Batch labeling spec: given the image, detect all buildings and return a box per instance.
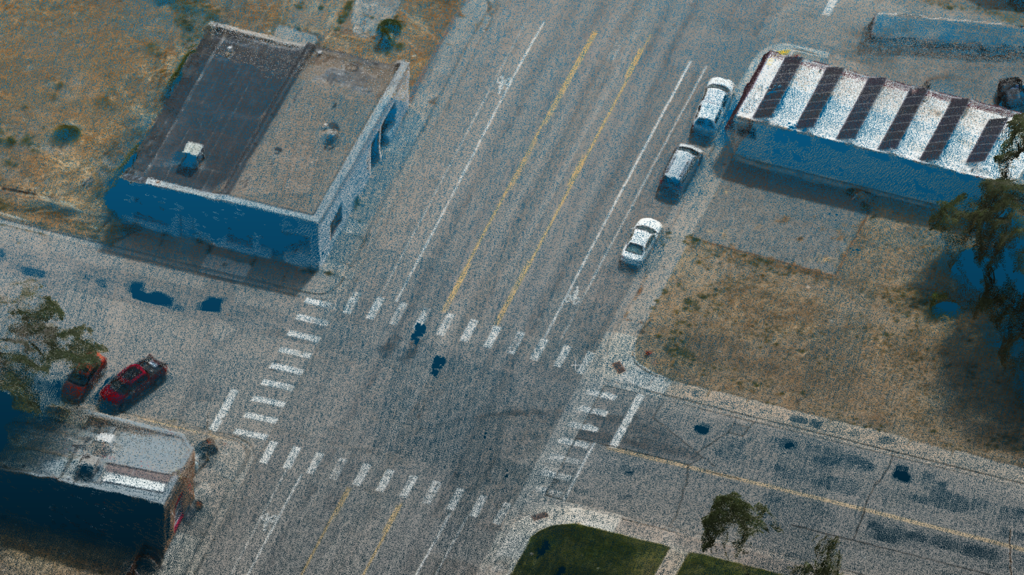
[121,21,408,274]
[729,48,1024,224]
[0,392,198,566]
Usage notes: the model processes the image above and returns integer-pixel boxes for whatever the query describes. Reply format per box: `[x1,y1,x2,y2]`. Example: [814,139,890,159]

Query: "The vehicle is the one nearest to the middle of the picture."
[619,218,663,270]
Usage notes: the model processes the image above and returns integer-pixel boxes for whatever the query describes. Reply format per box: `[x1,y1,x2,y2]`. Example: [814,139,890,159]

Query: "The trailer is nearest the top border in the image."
[873,14,1024,65]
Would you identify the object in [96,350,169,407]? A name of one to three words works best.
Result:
truck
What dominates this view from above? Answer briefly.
paved ground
